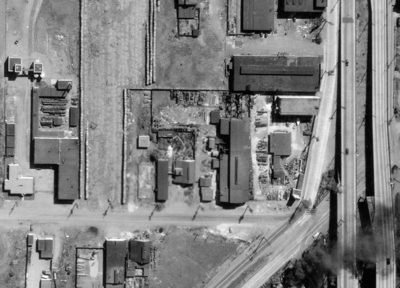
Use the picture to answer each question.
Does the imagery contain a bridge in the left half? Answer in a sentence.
No, no bridge can be made out in the left half.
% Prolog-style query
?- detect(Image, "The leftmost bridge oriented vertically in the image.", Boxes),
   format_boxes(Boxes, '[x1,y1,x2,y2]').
[335,0,359,288]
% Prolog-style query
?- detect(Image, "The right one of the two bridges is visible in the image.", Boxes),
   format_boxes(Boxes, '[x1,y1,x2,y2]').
[370,0,396,288]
